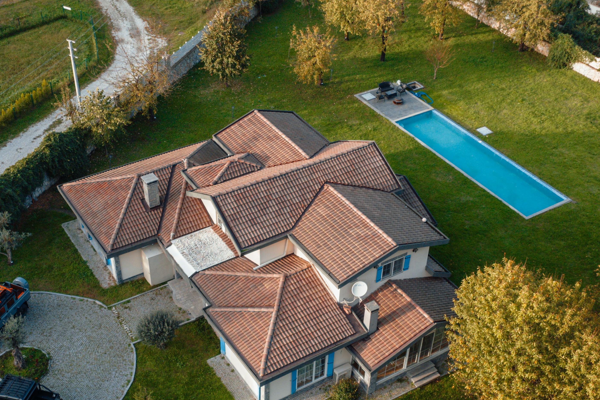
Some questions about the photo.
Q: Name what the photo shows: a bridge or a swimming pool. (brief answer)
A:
swimming pool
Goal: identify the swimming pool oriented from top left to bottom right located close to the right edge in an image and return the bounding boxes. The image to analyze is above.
[394,109,575,219]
